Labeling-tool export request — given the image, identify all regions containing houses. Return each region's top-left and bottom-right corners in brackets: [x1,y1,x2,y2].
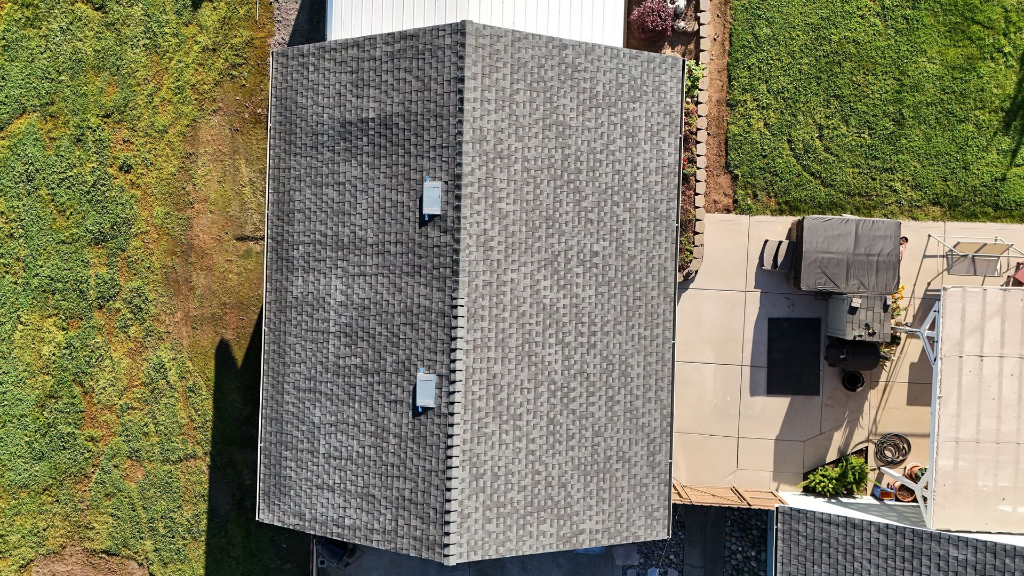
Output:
[252,18,690,567]
[764,494,1024,576]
